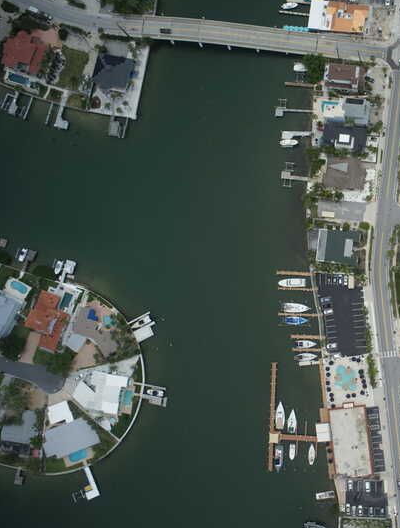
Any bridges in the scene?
Yes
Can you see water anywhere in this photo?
Yes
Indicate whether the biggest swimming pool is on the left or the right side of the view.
right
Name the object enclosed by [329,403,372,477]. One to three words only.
building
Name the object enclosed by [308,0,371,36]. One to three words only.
building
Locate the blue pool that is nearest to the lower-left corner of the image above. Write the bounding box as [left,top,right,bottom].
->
[68,449,89,462]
